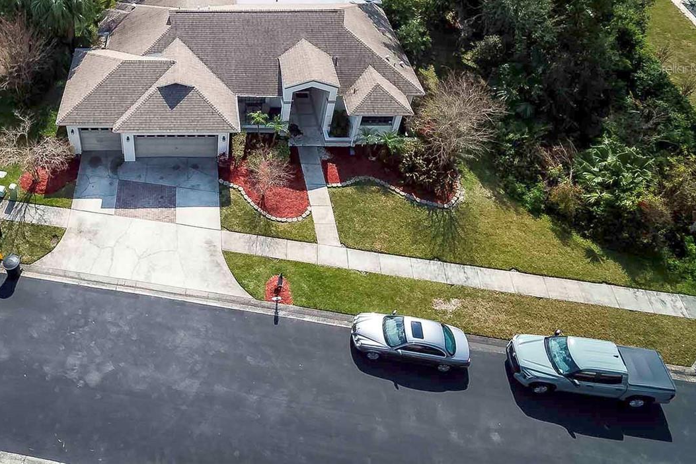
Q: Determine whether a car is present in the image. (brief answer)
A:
Yes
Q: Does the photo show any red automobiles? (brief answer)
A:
No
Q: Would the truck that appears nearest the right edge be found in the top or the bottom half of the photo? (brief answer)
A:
bottom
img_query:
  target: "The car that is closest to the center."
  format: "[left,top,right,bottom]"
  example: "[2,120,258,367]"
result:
[351,312,474,374]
